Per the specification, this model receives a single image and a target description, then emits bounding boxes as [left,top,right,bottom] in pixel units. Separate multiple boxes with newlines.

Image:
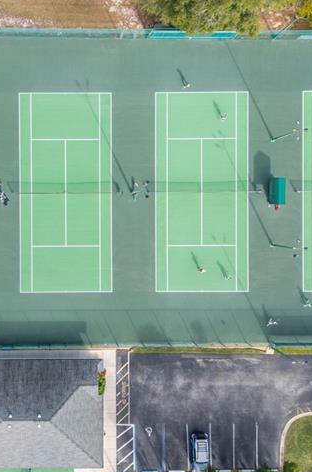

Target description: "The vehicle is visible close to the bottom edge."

[191,433,212,472]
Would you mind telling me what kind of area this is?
sports ground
